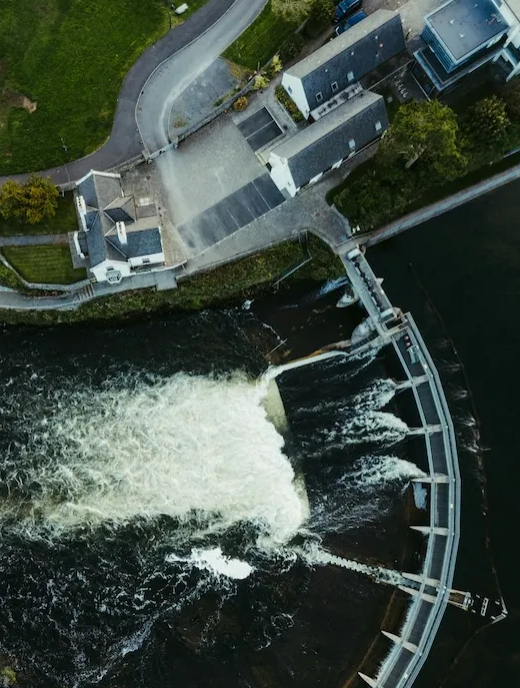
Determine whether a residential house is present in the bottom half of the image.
No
